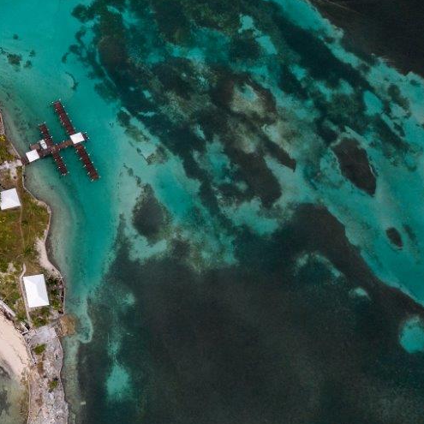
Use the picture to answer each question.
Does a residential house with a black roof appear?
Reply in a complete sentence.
No, the picture doesn't show any residential house with a black roof.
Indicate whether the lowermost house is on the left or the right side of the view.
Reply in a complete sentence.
The lowermost house sits on the left side.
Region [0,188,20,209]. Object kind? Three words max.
house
